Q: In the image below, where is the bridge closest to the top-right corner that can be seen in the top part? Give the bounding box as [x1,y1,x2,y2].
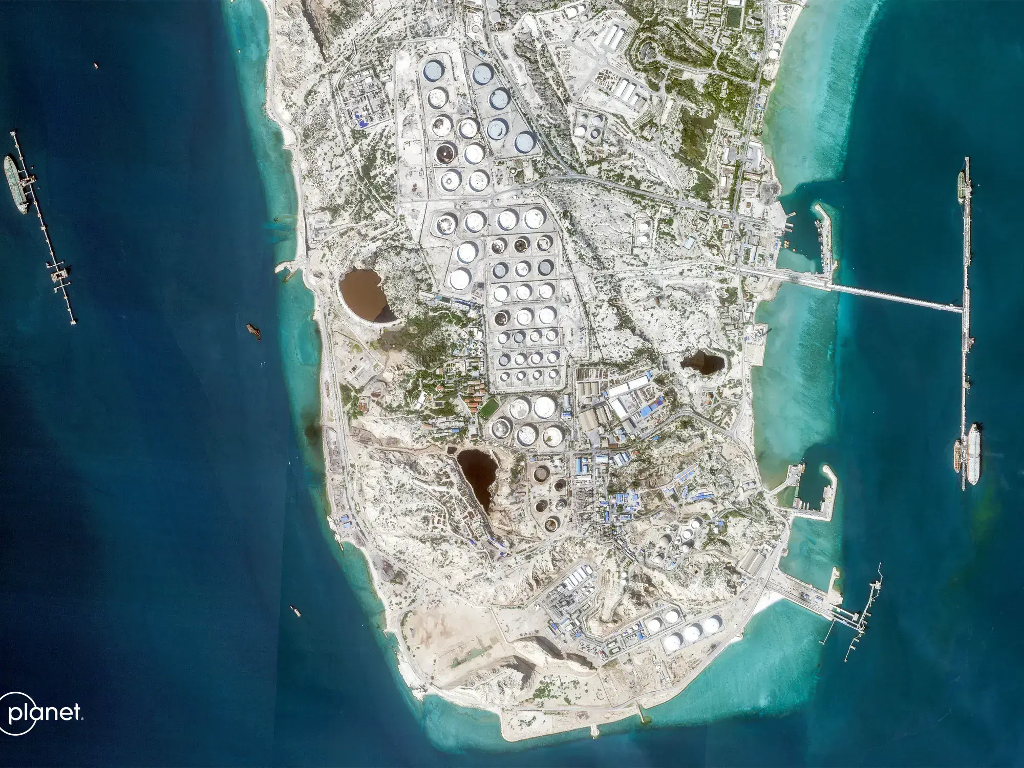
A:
[832,286,963,313]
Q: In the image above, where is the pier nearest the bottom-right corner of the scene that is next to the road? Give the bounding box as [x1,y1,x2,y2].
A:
[819,563,883,661]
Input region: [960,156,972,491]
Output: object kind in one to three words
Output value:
pier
